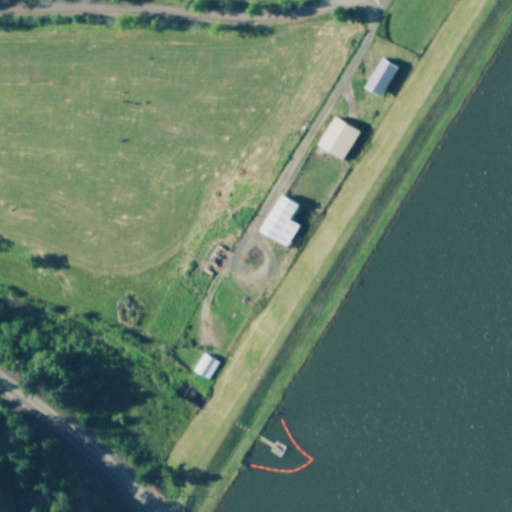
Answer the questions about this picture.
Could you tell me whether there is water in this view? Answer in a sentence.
Yes, water can be seen from above here.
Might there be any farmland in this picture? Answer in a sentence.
Yes, farmland can be seen from above here.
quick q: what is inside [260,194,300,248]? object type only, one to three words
barn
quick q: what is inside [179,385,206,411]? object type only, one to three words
shed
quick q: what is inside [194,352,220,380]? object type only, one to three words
shed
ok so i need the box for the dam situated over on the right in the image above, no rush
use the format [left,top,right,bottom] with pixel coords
[140,0,512,512]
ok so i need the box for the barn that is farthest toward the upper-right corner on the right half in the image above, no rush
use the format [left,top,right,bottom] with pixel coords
[365,56,400,97]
